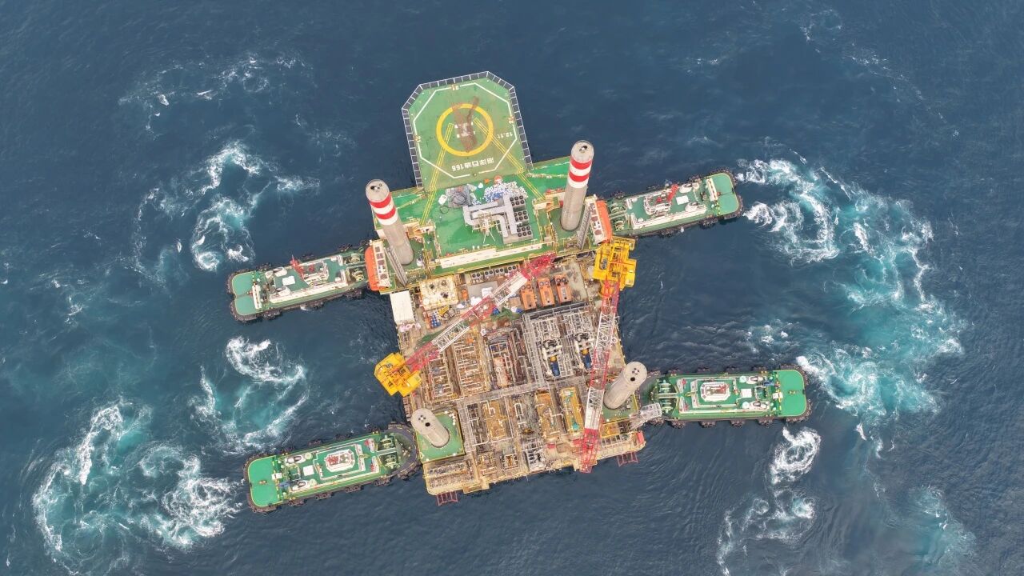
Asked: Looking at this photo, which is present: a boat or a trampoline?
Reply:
boat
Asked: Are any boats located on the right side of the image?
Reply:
Yes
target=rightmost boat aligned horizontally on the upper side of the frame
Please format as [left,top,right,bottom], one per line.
[597,172,743,243]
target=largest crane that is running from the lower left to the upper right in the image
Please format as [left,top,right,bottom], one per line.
[377,250,561,402]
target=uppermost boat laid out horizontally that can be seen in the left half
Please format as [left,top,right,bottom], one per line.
[230,245,379,321]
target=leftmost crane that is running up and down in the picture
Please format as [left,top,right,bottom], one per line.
[579,246,633,475]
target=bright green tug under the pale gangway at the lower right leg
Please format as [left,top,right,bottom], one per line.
[636,363,811,427]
